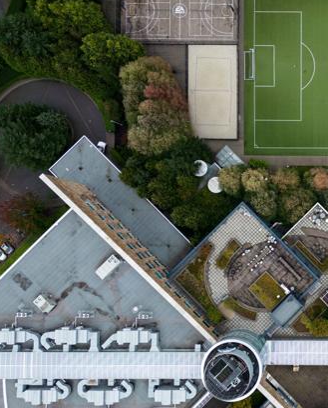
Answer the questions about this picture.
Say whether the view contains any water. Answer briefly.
No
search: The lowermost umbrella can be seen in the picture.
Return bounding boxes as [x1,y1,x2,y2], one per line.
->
[208,177,223,193]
